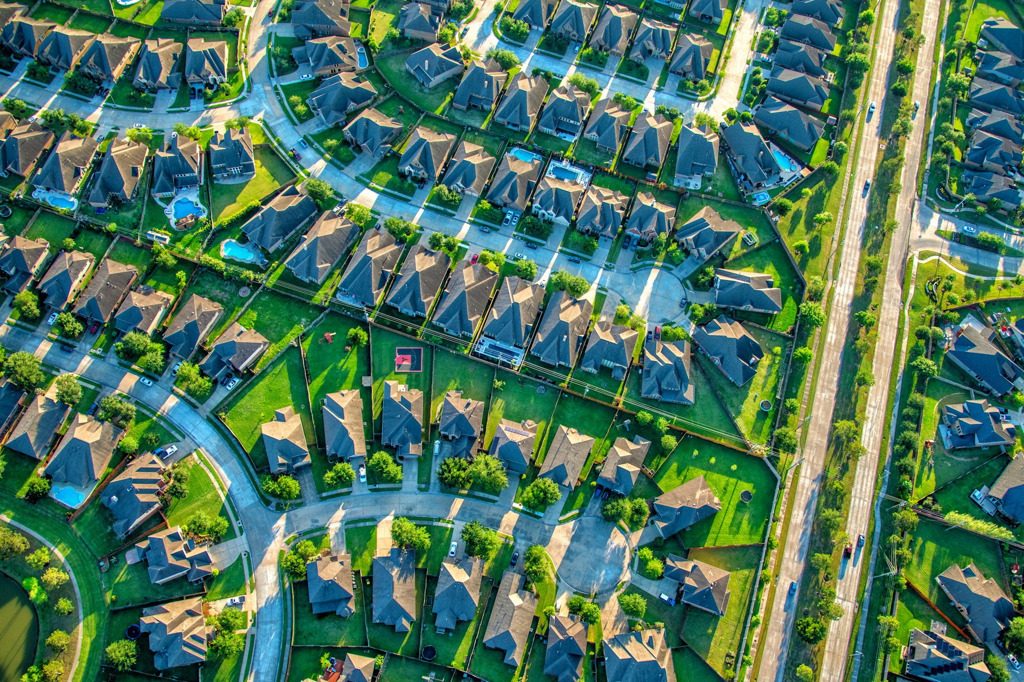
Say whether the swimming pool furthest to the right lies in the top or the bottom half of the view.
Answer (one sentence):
You can find the swimming pool furthest to the right in the top half.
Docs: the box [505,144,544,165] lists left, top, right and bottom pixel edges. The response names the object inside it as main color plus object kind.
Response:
blue swimming pool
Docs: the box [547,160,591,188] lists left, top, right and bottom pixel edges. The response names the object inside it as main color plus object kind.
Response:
blue swimming pool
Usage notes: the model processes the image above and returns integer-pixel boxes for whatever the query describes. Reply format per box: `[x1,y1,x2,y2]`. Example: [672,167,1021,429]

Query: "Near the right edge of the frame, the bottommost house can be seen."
[908,622,991,682]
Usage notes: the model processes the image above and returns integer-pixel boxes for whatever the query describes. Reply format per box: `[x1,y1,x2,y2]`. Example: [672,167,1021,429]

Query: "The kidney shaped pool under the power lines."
[32,188,79,211]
